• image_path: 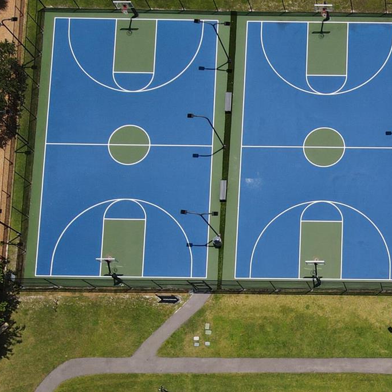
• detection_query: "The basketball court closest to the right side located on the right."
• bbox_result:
[222,13,392,291]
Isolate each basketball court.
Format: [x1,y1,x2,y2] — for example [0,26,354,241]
[23,10,230,287]
[222,13,392,291]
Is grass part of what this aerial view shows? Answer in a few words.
Yes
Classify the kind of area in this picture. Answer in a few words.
sports ground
